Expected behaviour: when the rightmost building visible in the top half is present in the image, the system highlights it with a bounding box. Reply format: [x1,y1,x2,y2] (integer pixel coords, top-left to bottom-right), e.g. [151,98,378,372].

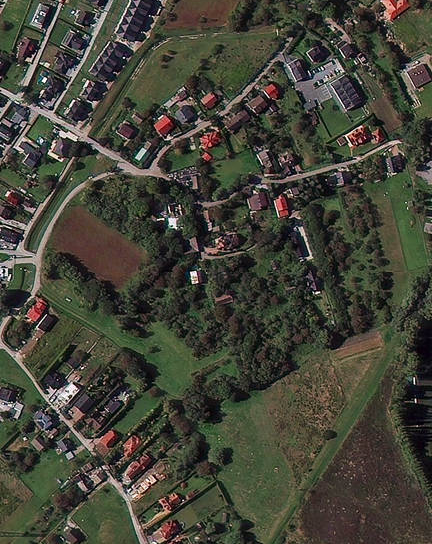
[408,63,432,87]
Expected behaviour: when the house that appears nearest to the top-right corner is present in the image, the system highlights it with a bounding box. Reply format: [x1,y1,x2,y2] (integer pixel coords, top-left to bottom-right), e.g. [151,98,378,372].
[382,0,411,19]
